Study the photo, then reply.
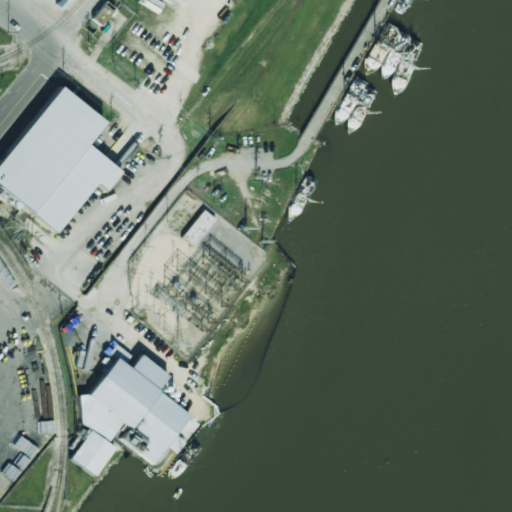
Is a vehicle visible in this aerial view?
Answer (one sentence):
Yes, the photo shows a vehicle.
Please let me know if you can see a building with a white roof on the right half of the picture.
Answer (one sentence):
No, the scene shows no building with a white roof on the right half of the picture.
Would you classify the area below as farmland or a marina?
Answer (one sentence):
The area seen from above is a marina.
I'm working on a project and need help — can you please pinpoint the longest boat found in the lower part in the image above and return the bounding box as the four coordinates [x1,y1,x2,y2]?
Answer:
[168,442,206,480]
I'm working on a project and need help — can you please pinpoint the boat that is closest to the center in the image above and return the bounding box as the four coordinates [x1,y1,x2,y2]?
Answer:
[286,174,324,224]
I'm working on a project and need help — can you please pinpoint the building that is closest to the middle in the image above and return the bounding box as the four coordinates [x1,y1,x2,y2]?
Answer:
[182,209,216,246]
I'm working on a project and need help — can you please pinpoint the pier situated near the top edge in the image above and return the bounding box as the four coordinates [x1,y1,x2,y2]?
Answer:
[301,0,398,153]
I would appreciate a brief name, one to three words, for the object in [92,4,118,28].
house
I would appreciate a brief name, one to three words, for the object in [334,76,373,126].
boat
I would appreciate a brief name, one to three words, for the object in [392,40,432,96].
boat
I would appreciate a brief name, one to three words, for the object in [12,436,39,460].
shed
